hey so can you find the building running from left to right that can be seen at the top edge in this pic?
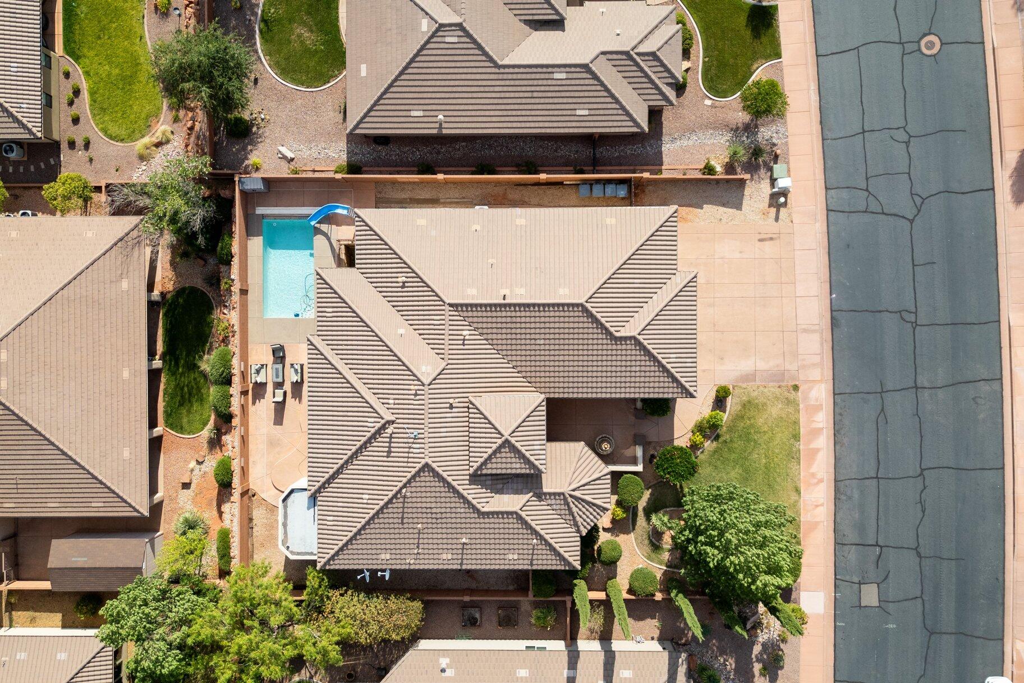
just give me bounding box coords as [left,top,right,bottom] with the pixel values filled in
[344,0,684,137]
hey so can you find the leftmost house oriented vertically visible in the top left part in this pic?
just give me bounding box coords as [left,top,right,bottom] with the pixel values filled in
[0,0,59,141]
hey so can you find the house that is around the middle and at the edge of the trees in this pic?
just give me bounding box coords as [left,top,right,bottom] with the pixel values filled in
[279,205,700,572]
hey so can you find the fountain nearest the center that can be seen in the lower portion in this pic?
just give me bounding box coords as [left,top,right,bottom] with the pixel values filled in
[593,436,614,457]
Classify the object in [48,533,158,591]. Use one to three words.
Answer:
shed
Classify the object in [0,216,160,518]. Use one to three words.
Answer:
house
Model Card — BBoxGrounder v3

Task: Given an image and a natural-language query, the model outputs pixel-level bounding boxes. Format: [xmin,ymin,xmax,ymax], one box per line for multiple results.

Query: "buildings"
[48,533,158,591]
[0,627,122,683]
[279,205,700,572]
[0,0,59,141]
[344,0,684,137]
[0,216,160,518]
[378,639,690,683]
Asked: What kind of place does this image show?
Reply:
residential area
